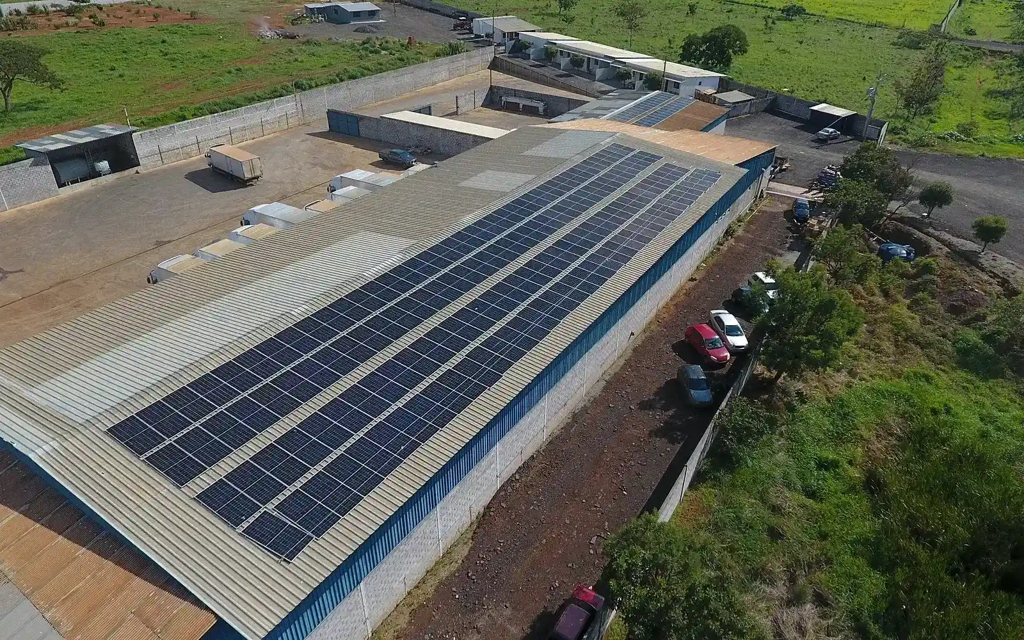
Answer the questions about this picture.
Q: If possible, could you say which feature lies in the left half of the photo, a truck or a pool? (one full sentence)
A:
You can see a truck in the left half of the photo.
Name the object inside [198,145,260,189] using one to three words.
truck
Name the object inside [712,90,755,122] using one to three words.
shed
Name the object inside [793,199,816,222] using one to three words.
car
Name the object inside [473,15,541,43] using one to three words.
building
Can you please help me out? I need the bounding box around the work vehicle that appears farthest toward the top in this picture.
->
[454,17,470,31]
